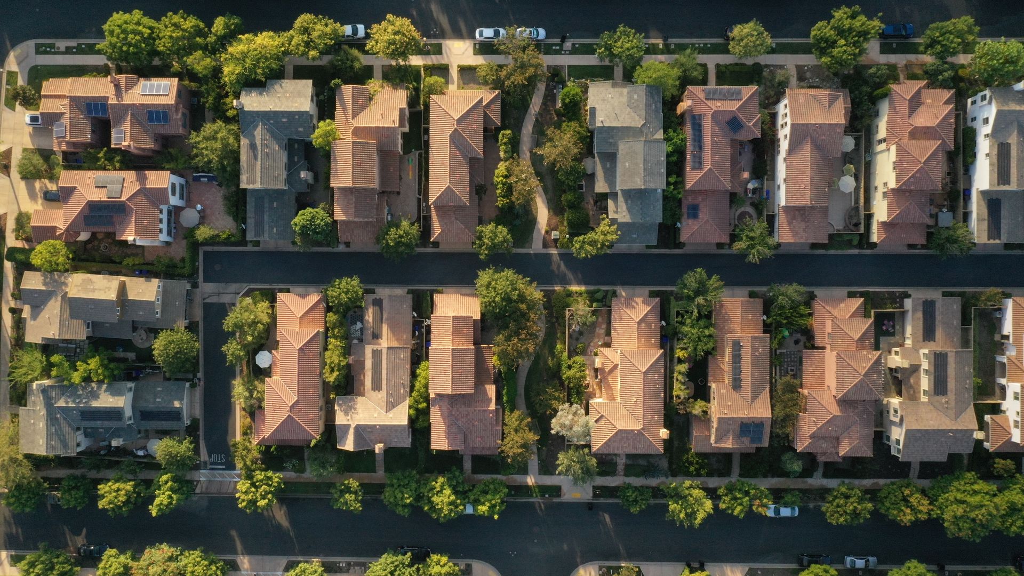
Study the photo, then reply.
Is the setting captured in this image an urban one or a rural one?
urban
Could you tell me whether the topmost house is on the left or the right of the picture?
left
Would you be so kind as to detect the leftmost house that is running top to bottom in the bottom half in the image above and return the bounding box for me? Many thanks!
[254,293,327,446]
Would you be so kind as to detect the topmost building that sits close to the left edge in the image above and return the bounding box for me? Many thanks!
[34,73,196,153]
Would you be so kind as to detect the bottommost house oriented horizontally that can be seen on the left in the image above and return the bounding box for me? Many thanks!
[19,374,195,457]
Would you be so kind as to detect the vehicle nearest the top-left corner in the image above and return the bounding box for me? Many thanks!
[24,112,38,128]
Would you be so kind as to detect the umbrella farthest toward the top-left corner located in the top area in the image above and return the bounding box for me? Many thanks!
[181,207,201,227]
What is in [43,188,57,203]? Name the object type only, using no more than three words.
car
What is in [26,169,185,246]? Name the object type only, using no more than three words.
house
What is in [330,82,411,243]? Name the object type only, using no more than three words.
house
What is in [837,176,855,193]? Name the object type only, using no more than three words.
umbrella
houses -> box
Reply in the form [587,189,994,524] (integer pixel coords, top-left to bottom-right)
[429,89,501,243]
[587,298,669,455]
[962,81,1024,244]
[668,85,762,244]
[793,298,883,462]
[330,82,411,243]
[691,298,776,453]
[774,87,853,244]
[871,80,956,244]
[428,294,502,455]
[26,169,185,246]
[16,271,196,342]
[234,80,321,240]
[587,81,667,244]
[34,73,196,153]
[882,298,985,458]
[333,294,414,453]
[254,293,327,446]
[19,374,195,457]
